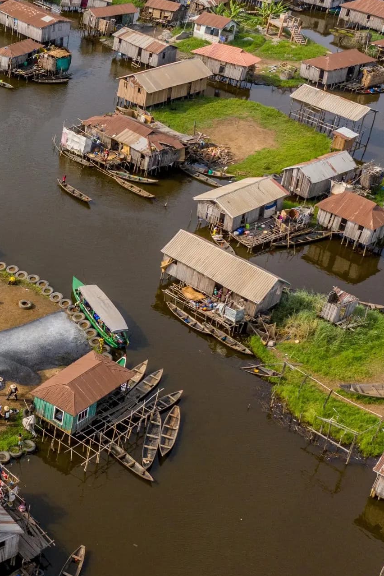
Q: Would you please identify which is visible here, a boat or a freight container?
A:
boat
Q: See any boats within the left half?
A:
Yes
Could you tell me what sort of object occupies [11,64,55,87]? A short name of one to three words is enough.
pier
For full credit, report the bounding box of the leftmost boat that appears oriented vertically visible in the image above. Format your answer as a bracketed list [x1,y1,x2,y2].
[140,410,161,469]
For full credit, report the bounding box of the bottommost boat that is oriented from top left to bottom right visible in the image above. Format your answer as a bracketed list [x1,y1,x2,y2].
[101,438,155,482]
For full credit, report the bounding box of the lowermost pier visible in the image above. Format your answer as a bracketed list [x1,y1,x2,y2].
[0,497,53,567]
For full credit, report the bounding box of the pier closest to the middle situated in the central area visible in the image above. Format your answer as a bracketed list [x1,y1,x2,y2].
[161,282,251,344]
